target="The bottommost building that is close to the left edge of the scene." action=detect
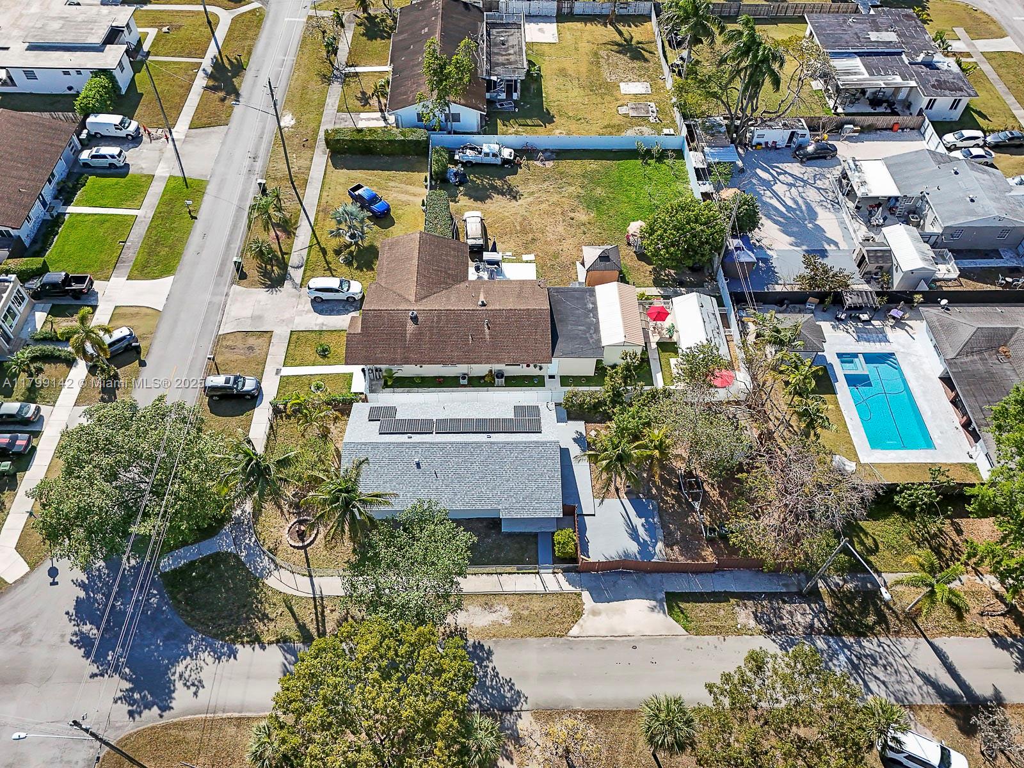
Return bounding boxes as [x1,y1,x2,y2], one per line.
[0,274,34,358]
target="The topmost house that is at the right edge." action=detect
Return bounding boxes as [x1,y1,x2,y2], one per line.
[803,5,979,119]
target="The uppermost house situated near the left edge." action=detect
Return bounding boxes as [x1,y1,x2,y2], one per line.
[0,0,145,94]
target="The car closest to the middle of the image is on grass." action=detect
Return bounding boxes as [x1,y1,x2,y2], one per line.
[459,207,484,244]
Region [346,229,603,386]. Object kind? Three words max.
house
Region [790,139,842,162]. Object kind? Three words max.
car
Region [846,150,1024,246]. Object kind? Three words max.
house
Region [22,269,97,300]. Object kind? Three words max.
truck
